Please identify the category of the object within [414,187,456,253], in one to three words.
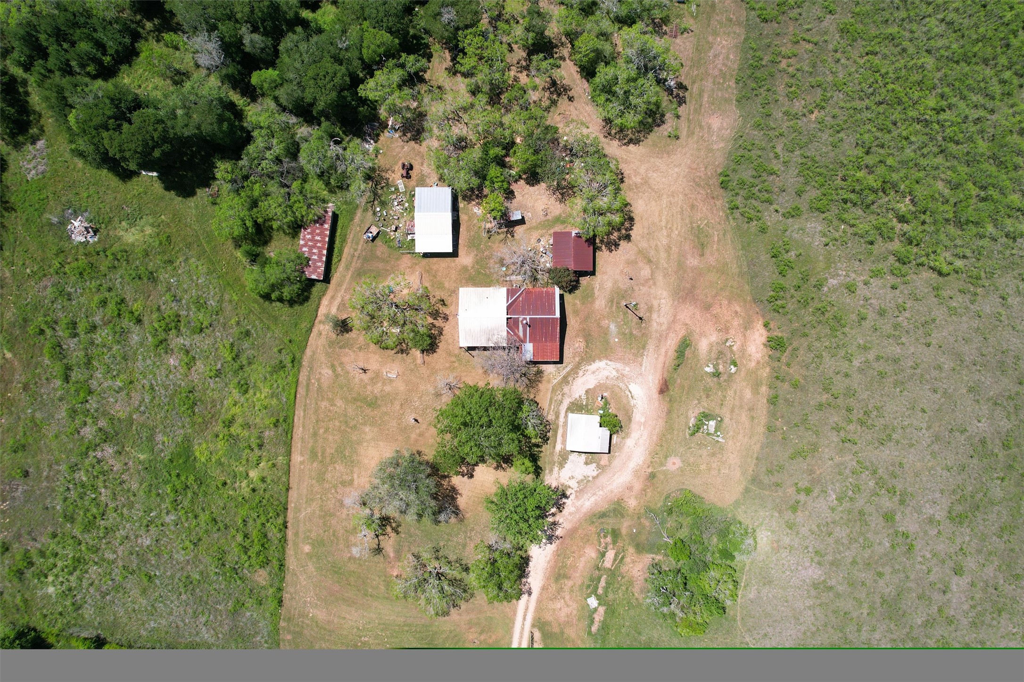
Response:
building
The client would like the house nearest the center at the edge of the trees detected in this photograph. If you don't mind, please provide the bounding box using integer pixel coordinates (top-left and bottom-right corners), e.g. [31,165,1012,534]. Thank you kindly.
[457,287,560,361]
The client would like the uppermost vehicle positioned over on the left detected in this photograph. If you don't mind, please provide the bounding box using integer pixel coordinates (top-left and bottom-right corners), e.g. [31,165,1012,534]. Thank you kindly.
[399,160,411,178]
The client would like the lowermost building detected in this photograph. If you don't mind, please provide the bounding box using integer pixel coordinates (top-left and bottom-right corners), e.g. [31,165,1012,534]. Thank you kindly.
[566,413,610,453]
